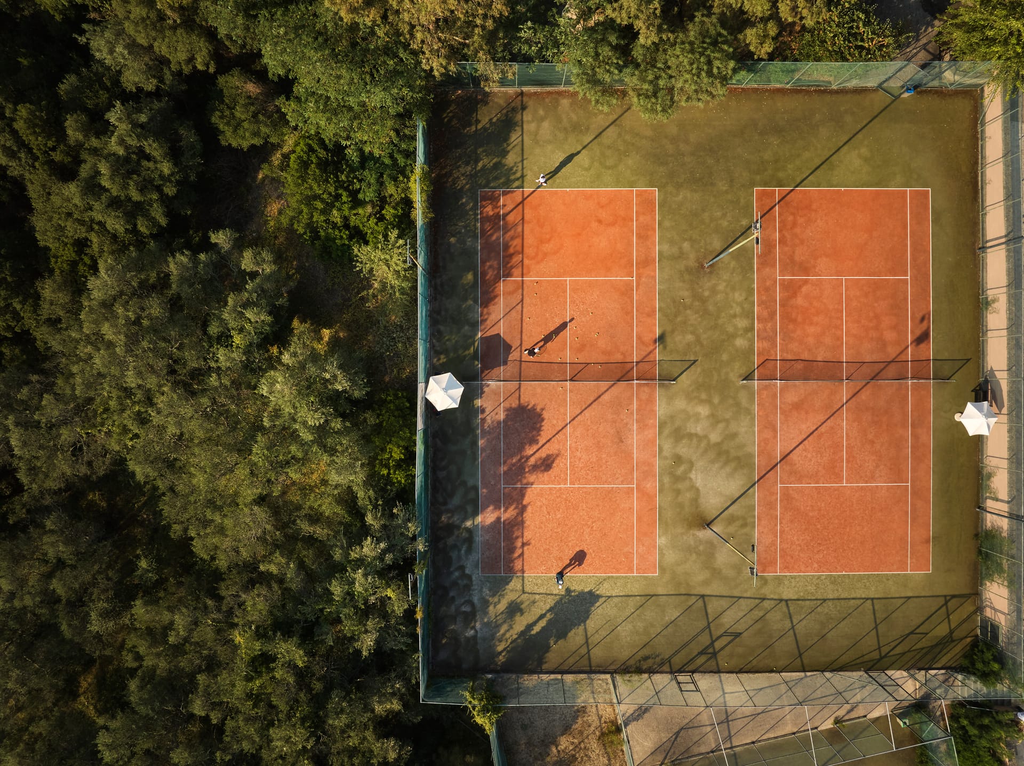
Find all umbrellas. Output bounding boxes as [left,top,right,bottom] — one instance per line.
[425,373,464,411]
[956,401,998,436]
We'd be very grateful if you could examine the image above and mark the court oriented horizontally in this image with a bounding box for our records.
[673,705,935,766]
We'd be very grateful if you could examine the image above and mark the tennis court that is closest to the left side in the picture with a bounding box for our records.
[479,188,658,576]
